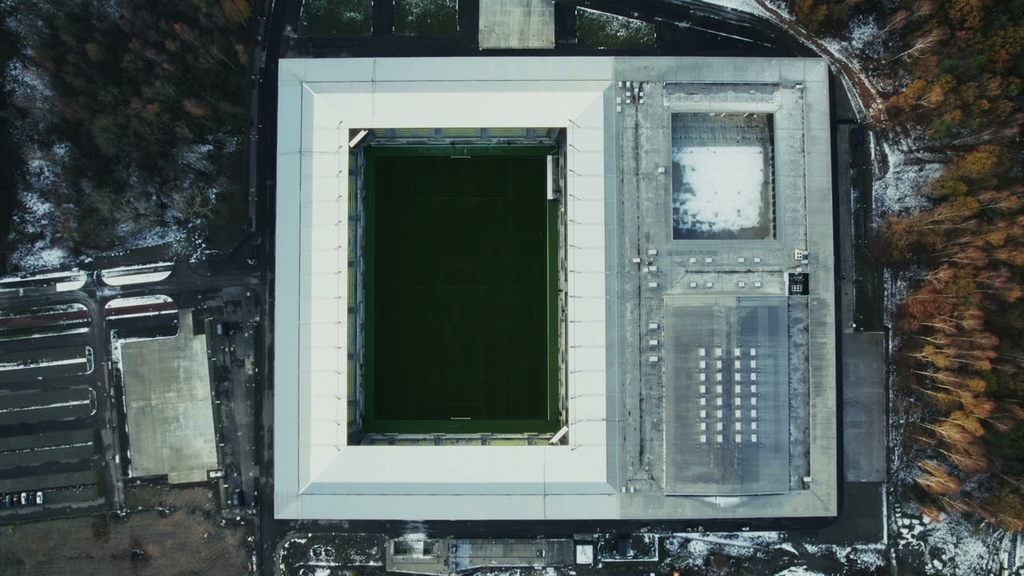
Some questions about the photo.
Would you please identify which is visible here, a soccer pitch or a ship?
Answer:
soccer pitch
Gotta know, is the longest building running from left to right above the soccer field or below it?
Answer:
below it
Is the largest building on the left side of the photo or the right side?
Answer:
right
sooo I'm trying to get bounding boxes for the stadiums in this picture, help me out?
[274,57,616,519]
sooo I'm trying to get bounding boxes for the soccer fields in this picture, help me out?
[365,145,560,433]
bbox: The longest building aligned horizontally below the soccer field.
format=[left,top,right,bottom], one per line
[387,536,574,575]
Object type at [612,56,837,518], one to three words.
building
